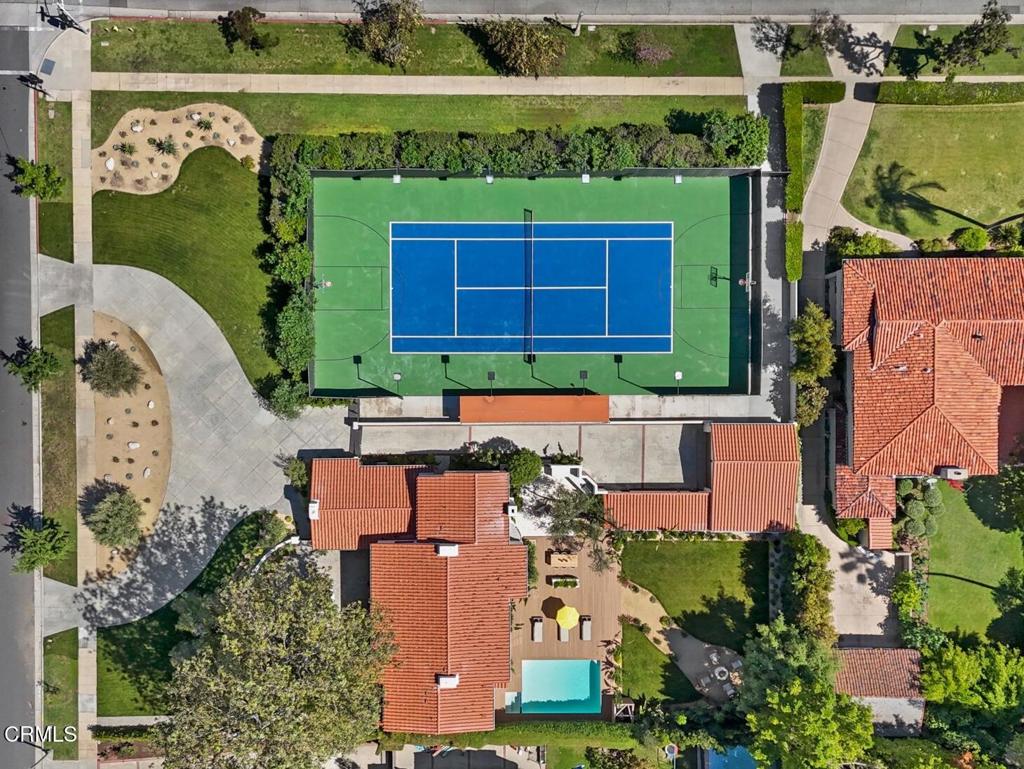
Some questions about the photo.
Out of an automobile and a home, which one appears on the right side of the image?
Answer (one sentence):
Looking on the right side of the image, you will find a home.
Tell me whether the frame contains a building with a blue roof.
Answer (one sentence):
No, there's no building with a blue roof here.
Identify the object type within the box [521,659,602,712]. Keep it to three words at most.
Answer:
swimming pool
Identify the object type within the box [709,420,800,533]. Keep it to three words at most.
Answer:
building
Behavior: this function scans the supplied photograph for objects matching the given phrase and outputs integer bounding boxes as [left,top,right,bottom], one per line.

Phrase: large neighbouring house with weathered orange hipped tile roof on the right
[830,256,1024,550]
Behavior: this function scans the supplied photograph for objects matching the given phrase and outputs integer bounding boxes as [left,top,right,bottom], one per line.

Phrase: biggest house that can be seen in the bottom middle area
[308,457,528,737]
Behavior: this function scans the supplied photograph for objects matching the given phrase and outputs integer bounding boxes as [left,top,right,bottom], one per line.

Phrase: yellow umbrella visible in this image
[555,604,579,628]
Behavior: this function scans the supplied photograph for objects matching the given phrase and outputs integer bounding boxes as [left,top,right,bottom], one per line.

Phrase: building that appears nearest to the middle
[459,397,609,421]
